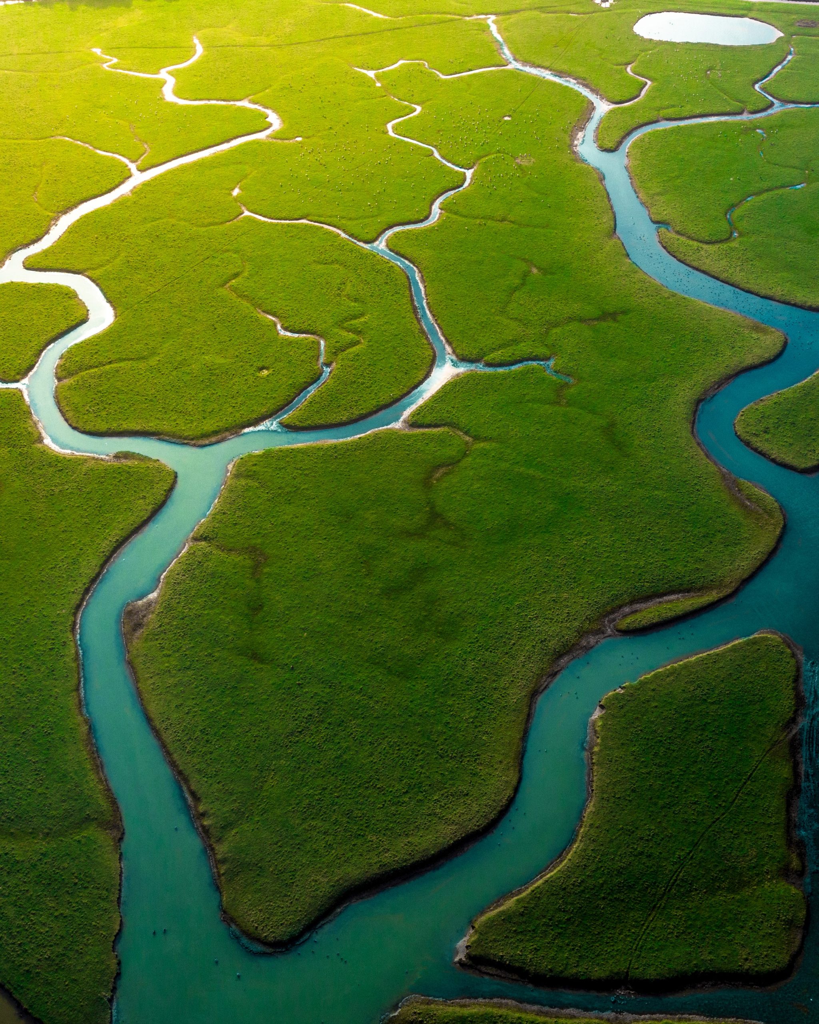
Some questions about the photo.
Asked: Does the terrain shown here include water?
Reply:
Yes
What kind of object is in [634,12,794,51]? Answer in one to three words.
pond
